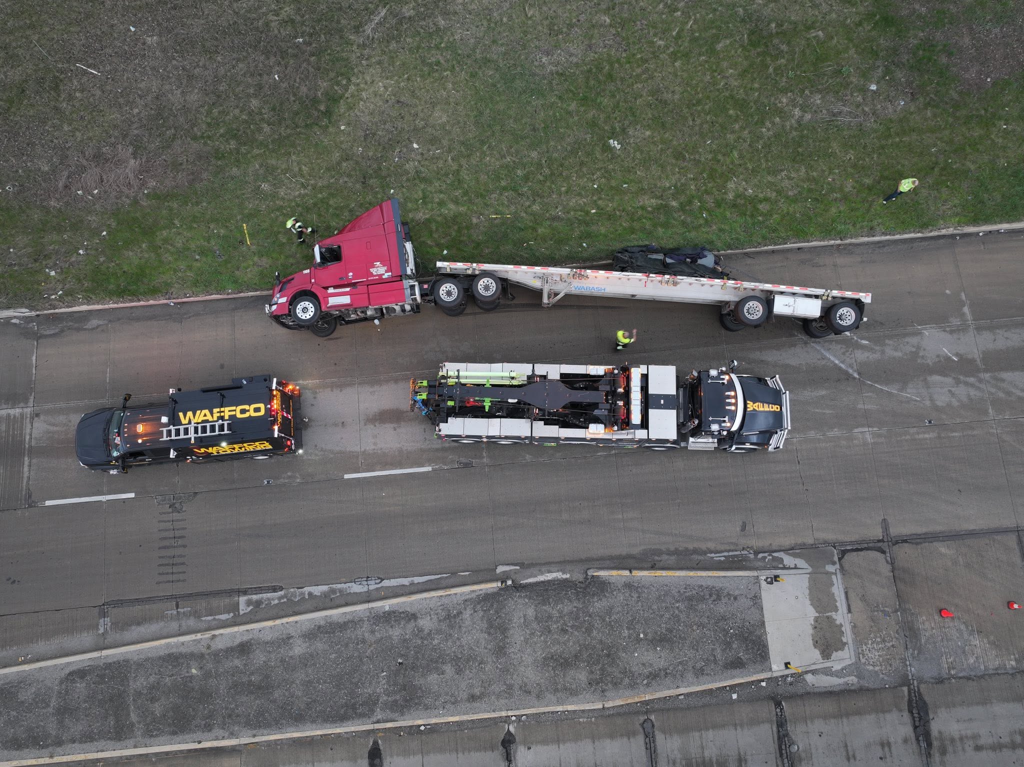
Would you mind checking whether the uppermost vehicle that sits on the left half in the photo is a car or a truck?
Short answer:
truck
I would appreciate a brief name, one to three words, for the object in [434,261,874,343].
trailer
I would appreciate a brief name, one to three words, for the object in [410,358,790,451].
truck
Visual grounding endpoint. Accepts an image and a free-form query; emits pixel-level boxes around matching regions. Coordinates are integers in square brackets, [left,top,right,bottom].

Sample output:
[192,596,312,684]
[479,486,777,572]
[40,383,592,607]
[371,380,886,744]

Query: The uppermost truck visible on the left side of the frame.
[263,198,509,337]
